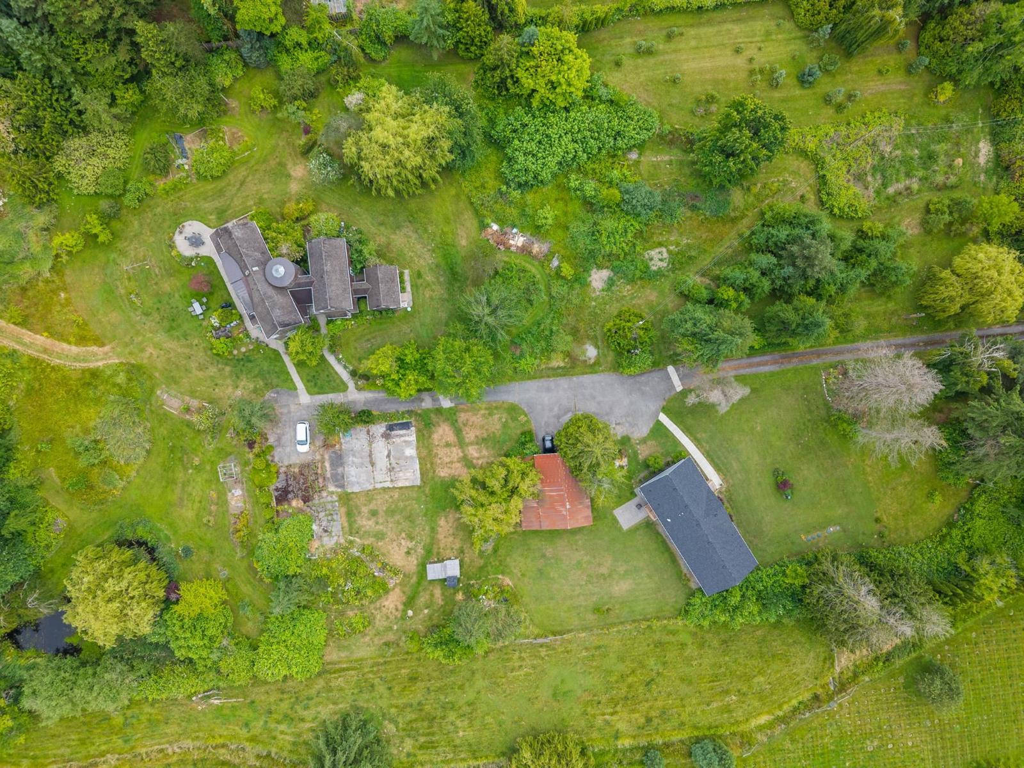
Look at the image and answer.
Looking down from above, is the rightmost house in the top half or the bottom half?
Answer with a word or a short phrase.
bottom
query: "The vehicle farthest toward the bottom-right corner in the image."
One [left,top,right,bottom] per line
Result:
[541,431,557,454]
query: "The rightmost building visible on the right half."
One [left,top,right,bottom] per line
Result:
[634,455,758,596]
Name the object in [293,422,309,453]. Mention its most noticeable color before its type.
white car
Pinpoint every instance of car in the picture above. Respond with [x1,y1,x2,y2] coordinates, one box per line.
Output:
[293,422,309,453]
[541,431,557,454]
